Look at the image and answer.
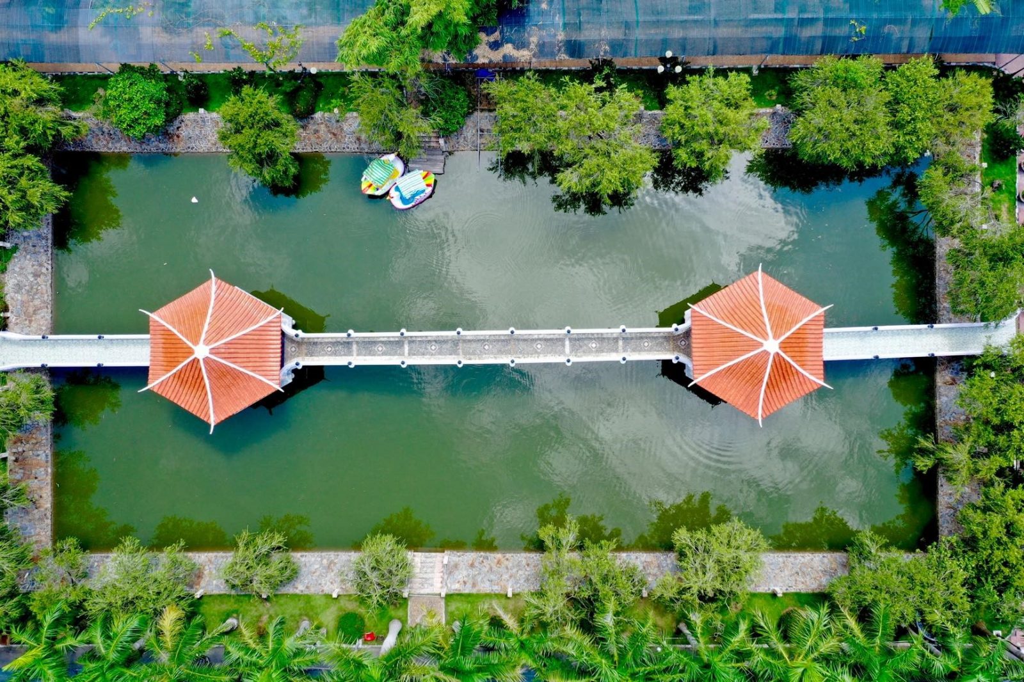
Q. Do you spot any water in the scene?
Yes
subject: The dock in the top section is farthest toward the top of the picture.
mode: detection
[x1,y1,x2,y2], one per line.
[408,150,439,176]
